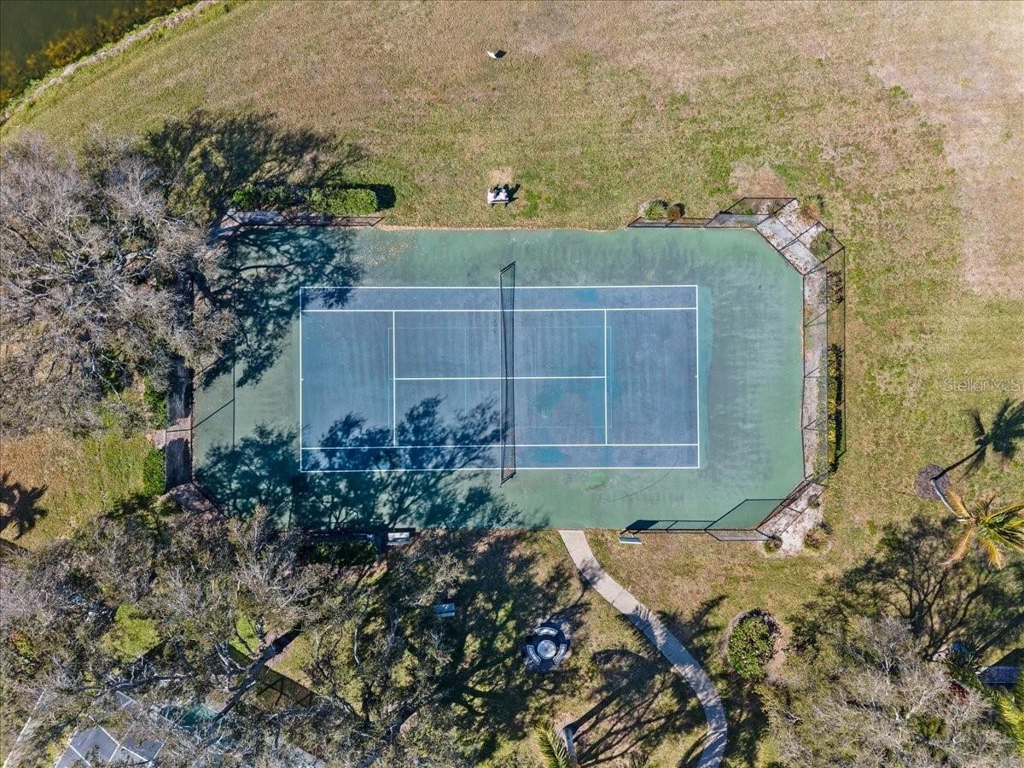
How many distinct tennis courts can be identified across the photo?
1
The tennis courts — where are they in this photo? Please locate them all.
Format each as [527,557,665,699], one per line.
[193,228,805,531]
